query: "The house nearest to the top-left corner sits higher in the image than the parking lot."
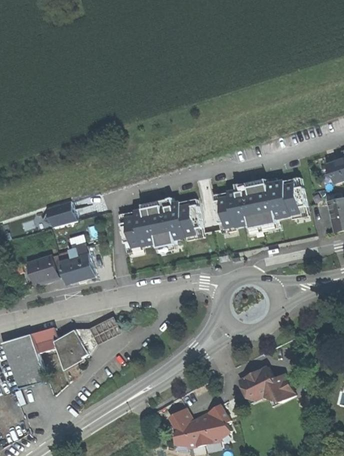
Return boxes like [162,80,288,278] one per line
[44,199,78,228]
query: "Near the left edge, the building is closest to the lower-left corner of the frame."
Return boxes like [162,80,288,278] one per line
[2,336,42,388]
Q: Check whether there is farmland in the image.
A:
Yes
